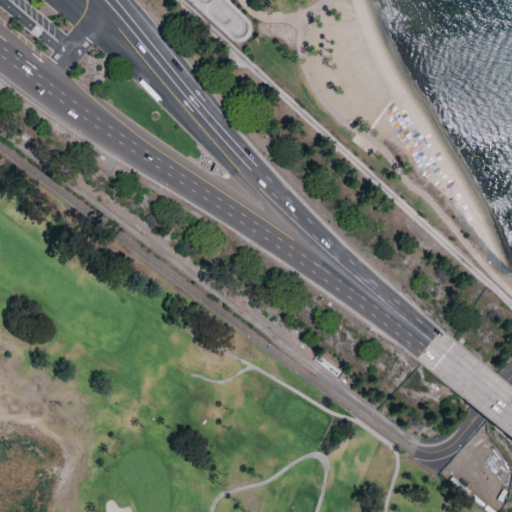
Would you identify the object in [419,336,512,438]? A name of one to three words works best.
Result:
bridge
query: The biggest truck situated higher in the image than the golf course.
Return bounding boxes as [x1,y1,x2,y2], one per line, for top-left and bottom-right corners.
[135,76,164,103]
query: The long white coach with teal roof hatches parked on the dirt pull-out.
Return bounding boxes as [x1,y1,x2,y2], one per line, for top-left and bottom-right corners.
[314,356,341,376]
